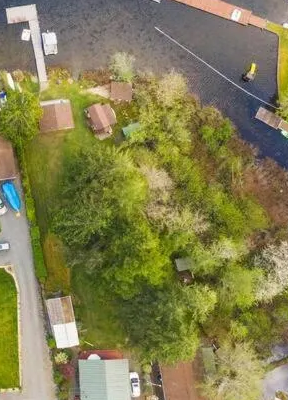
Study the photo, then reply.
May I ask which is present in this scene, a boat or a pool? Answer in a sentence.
Visible in the photo is a boat.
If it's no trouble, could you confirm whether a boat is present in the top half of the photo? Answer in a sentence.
Yes, a boat appears in the top half of the photo.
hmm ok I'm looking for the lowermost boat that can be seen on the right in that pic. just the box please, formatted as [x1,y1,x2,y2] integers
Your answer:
[243,62,258,82]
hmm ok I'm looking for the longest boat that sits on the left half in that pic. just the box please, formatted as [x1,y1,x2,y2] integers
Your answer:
[2,180,21,219]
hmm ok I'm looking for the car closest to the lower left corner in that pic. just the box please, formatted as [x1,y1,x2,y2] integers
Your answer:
[129,373,143,400]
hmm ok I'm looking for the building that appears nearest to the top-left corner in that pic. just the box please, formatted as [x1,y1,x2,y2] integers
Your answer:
[38,99,74,133]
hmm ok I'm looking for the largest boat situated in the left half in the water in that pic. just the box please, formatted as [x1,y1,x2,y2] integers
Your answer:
[42,31,58,56]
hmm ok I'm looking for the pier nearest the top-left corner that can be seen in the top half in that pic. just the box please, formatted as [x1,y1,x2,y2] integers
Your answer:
[6,4,47,82]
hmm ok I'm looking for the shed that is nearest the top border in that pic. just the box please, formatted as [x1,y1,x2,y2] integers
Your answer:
[108,83,132,101]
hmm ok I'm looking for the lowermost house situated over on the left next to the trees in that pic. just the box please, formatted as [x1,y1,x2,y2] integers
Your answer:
[76,349,131,400]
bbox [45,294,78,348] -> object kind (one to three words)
shed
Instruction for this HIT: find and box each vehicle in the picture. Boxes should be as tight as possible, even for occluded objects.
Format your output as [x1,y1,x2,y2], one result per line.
[129,373,143,400]
[0,240,12,253]
[0,197,9,217]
